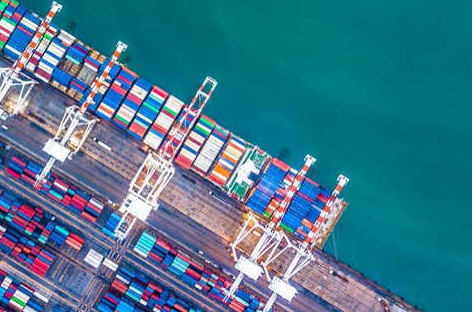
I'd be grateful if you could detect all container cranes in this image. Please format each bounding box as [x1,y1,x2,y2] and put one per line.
[112,74,220,240]
[262,177,352,312]
[0,3,61,123]
[224,155,316,298]
[34,42,127,185]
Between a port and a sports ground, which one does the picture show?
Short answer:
port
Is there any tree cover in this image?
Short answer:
No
